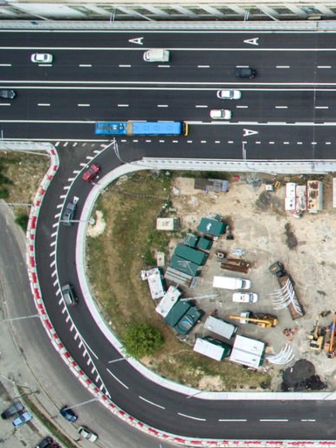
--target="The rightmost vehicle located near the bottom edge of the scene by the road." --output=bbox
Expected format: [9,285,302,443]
[76,426,97,443]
